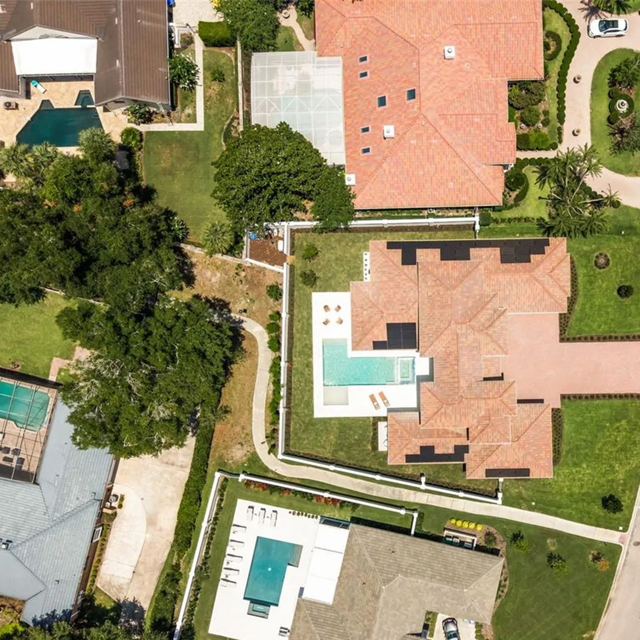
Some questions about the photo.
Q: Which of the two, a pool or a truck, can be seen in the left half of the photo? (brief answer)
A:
pool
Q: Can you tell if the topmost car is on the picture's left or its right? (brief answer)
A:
right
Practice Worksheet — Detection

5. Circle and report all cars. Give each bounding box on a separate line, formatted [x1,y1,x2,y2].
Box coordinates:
[441,617,461,640]
[588,16,628,38]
